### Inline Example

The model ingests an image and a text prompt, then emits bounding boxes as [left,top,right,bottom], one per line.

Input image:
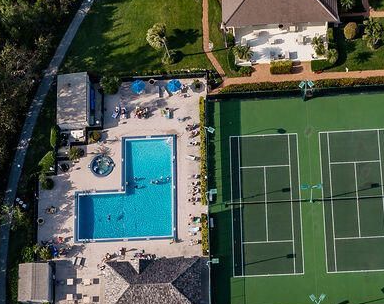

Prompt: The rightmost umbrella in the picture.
[167,79,182,94]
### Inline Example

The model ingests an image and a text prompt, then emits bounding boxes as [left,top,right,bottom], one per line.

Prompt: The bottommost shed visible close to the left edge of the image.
[18,262,55,302]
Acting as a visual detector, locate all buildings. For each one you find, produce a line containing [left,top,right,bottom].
[57,73,104,146]
[222,0,339,33]
[105,257,211,304]
[18,262,55,302]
